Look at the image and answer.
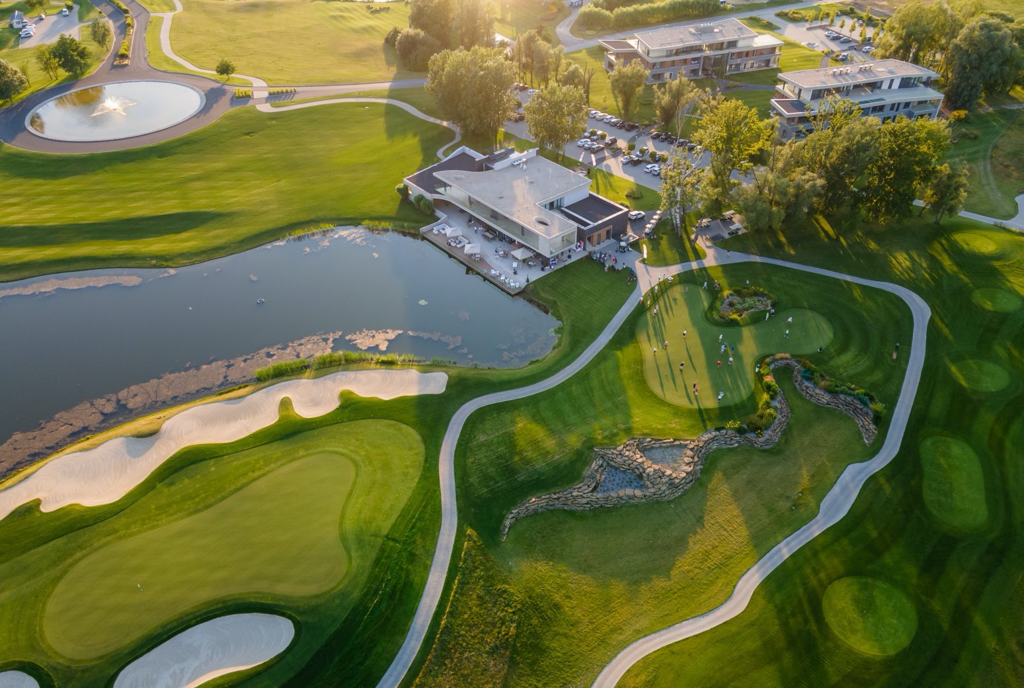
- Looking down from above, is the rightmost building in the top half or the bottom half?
top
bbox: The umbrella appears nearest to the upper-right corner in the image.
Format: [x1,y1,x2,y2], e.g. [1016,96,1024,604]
[510,248,533,263]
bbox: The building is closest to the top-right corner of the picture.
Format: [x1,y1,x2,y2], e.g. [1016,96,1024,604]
[770,59,944,135]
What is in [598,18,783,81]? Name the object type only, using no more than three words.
building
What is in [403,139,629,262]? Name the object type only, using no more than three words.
building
